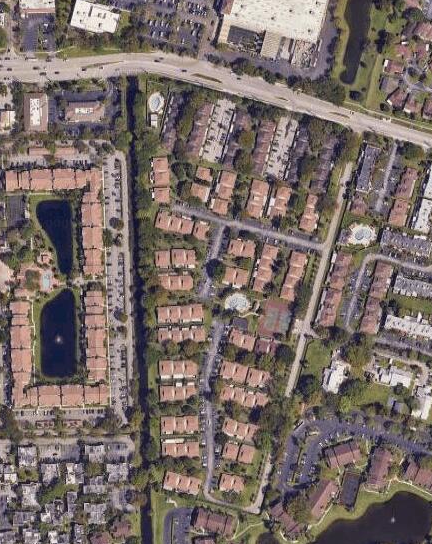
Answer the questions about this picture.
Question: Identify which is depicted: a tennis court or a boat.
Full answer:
This aerial view contains a tennis court.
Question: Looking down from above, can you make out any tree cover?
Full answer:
Yes, there's tree cover in this view.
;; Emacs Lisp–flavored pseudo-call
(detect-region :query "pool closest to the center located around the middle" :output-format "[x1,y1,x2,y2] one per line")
[225,294,250,312]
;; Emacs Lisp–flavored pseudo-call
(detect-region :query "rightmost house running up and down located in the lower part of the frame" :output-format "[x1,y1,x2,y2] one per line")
[413,381,432,422]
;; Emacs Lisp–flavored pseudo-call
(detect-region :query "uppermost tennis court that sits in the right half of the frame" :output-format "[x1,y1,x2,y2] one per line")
[258,301,292,339]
